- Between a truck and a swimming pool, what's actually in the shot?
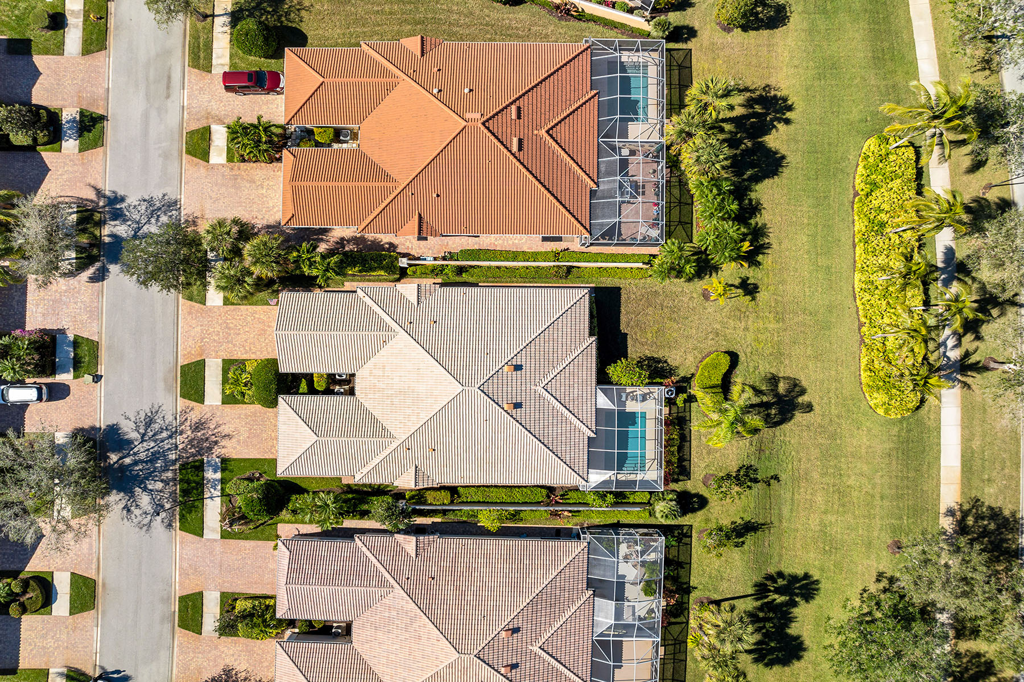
swimming pool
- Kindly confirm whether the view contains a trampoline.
No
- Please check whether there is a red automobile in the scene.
Yes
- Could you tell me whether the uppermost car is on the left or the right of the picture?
left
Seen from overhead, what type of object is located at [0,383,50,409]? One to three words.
car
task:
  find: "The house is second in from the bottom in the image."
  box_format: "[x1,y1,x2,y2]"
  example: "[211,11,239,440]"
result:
[271,284,596,489]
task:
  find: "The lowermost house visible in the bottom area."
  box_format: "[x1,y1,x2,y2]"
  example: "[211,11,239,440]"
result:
[276,534,598,682]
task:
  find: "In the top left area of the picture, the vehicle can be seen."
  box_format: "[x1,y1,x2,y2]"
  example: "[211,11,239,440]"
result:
[228,70,283,99]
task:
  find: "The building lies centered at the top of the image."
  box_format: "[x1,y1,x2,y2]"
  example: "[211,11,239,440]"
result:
[281,35,599,237]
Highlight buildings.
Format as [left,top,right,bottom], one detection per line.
[281,35,599,237]
[271,284,596,489]
[276,534,598,682]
